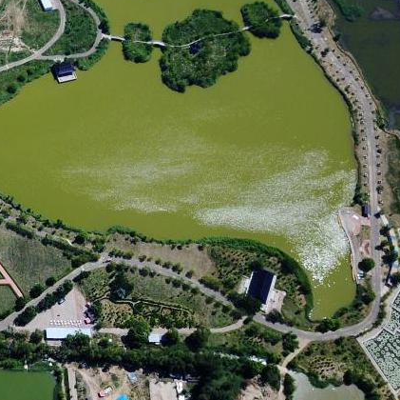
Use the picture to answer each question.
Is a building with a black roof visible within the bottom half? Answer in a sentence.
Yes, you'll find a building with a black roof within the bottom half.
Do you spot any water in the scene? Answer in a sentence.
Yes, water can be seen from above here.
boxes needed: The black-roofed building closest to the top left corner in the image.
[55,59,80,85]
